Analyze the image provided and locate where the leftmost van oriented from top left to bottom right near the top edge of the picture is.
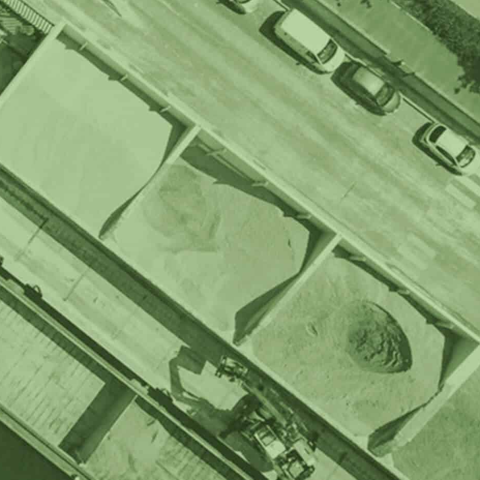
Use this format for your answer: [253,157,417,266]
[272,9,346,72]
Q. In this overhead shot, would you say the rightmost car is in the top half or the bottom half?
top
